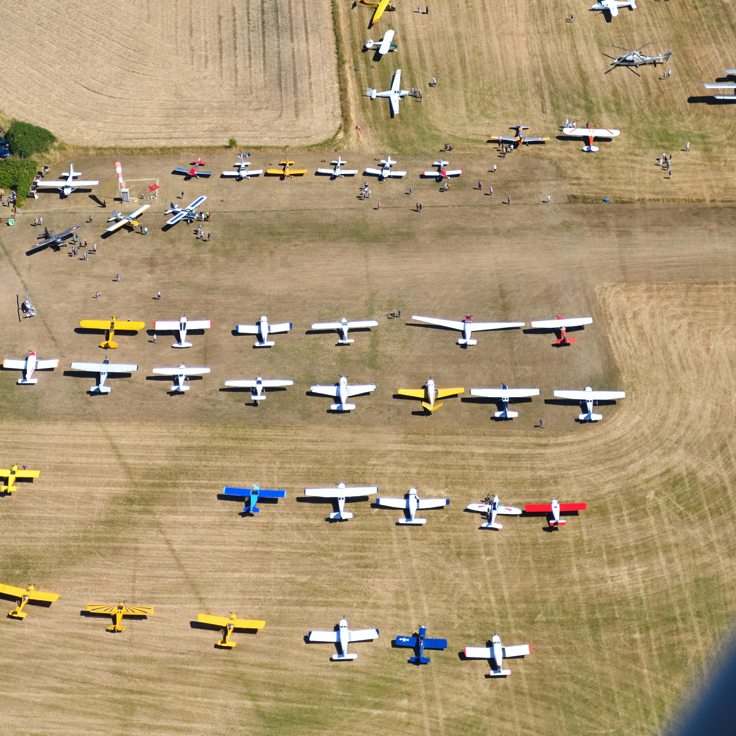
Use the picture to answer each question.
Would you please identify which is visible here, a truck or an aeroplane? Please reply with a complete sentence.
There is an aeroplane in the scene.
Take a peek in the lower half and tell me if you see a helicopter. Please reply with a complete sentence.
No, there's no helicopter to be seen in the lower half.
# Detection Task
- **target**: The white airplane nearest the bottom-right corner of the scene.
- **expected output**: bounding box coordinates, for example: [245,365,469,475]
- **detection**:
[463,634,531,676]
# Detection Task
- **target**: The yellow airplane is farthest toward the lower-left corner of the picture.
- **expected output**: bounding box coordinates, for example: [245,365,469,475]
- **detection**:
[0,584,59,621]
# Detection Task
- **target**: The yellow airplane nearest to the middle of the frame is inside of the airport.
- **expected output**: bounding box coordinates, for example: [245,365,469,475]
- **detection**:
[398,379,464,410]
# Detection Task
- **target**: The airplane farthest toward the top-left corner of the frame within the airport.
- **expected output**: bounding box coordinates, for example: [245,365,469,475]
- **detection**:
[38,164,99,199]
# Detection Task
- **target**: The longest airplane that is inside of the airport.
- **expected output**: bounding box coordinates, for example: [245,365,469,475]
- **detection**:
[412,315,525,345]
